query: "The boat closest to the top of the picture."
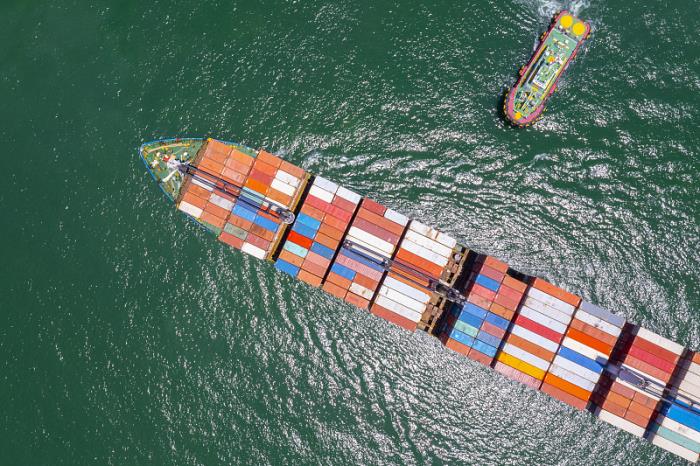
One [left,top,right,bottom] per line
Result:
[503,12,589,128]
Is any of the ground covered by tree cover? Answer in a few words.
No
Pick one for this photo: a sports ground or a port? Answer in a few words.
port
